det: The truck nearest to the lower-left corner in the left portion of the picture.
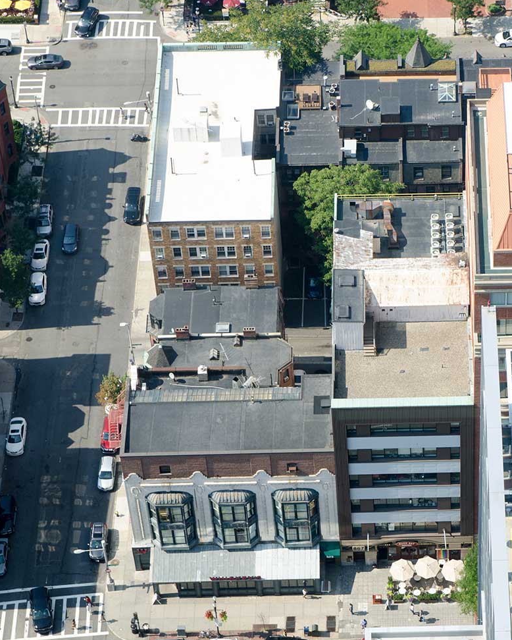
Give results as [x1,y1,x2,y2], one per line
[29,584,52,634]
